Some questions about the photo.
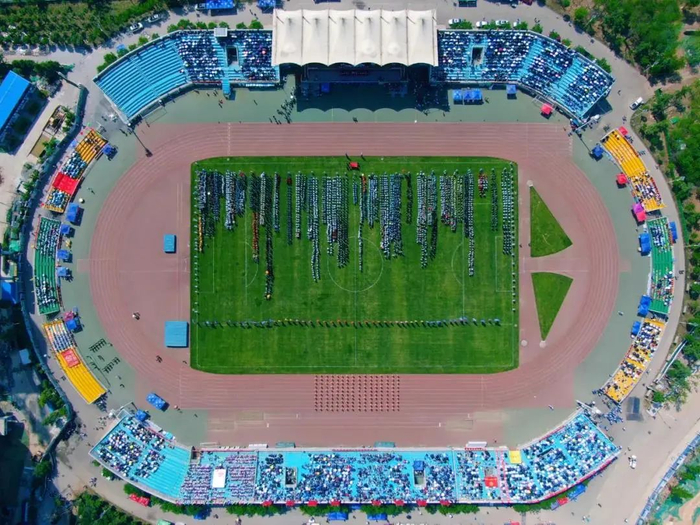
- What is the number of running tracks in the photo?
1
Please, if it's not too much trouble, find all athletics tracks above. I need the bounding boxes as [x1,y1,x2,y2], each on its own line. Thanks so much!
[77,123,631,446]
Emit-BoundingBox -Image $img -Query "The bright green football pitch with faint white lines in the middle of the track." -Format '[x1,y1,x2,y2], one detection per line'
[191,157,518,375]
